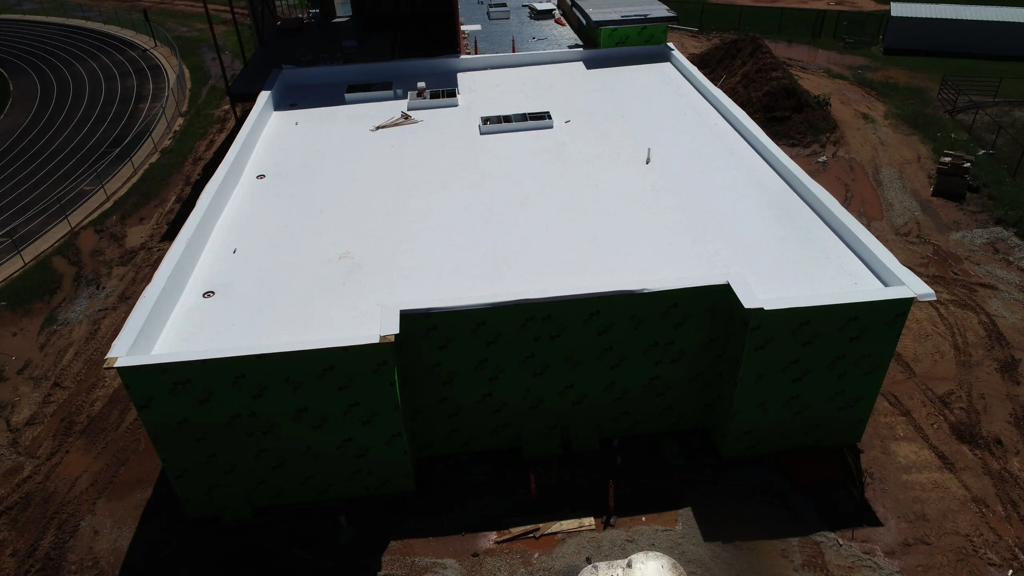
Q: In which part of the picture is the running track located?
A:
top left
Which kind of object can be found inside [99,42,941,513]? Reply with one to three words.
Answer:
building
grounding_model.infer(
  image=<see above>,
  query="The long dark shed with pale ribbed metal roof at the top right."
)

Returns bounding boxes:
[879,0,1024,62]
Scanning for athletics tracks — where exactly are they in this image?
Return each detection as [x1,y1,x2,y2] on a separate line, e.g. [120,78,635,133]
[0,18,171,256]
